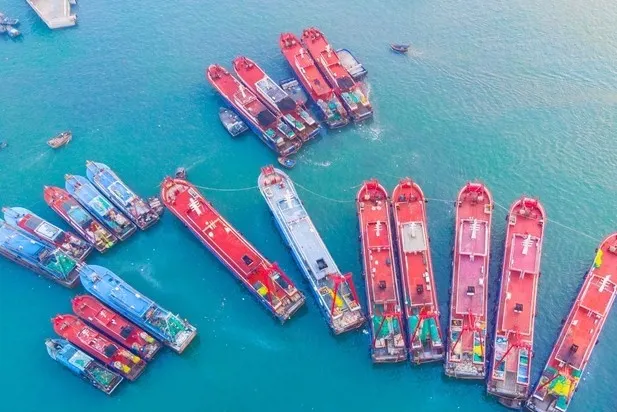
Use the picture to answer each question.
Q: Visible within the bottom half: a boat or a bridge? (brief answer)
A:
boat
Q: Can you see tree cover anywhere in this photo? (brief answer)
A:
No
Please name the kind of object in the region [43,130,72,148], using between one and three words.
boat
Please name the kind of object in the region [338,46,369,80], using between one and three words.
boat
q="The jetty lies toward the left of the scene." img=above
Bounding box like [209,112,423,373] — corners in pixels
[25,0,81,31]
